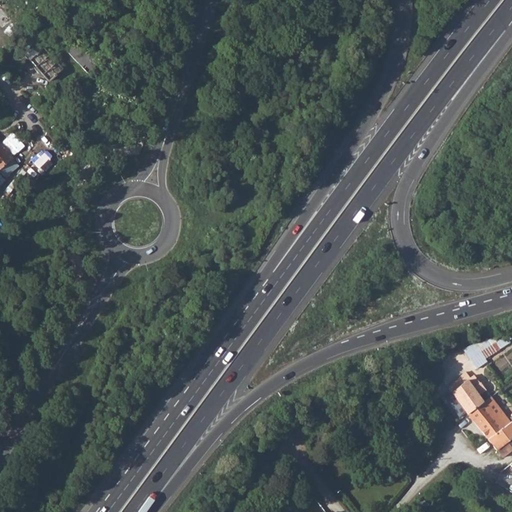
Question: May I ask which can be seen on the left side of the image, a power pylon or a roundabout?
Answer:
roundabout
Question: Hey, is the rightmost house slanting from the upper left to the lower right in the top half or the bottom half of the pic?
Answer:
bottom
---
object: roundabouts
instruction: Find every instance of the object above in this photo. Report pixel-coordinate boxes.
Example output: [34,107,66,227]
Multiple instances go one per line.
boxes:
[94,140,181,276]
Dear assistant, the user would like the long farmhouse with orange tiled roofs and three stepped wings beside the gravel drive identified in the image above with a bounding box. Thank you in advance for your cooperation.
[454,371,512,459]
